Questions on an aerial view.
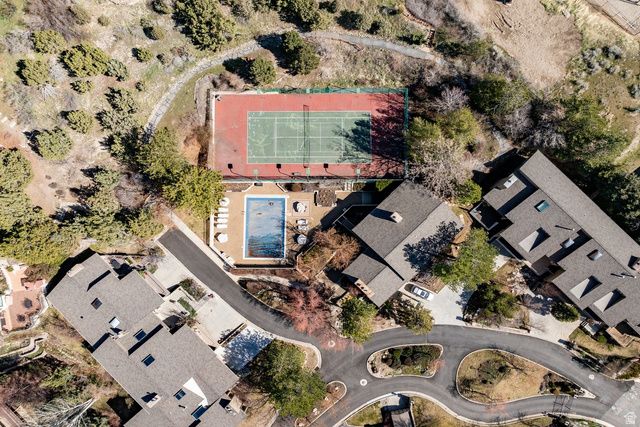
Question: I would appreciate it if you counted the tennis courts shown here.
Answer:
one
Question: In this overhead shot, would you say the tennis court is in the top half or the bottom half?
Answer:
top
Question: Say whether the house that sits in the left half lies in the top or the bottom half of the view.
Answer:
bottom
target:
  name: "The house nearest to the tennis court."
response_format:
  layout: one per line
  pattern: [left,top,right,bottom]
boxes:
[342,178,464,308]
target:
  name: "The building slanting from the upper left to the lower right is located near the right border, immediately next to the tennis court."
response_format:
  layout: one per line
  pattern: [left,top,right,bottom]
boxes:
[478,150,640,336]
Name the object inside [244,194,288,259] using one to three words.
swimming pool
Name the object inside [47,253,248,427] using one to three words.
house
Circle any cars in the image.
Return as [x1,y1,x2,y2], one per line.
[412,284,436,303]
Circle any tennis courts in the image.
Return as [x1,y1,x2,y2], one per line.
[212,93,406,181]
